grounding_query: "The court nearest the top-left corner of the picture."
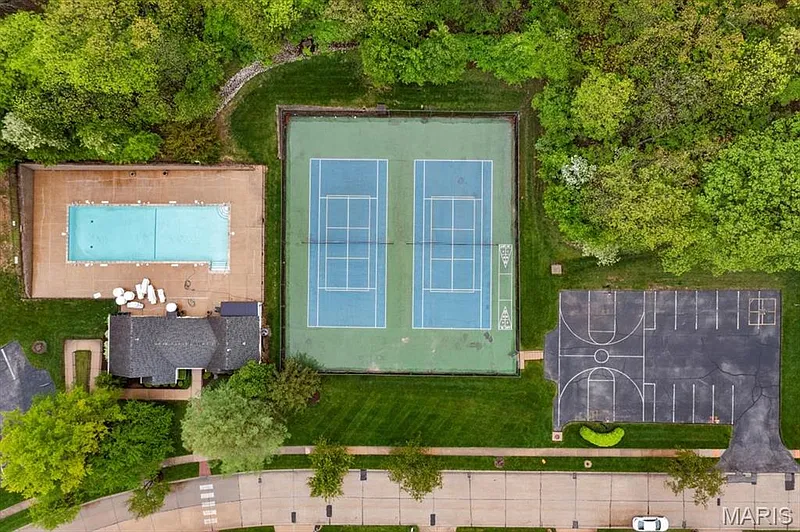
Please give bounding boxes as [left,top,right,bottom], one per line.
[301,159,394,328]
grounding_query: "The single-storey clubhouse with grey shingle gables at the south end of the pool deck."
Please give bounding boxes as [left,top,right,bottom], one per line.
[108,302,262,386]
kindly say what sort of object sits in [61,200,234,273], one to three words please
swimming pool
